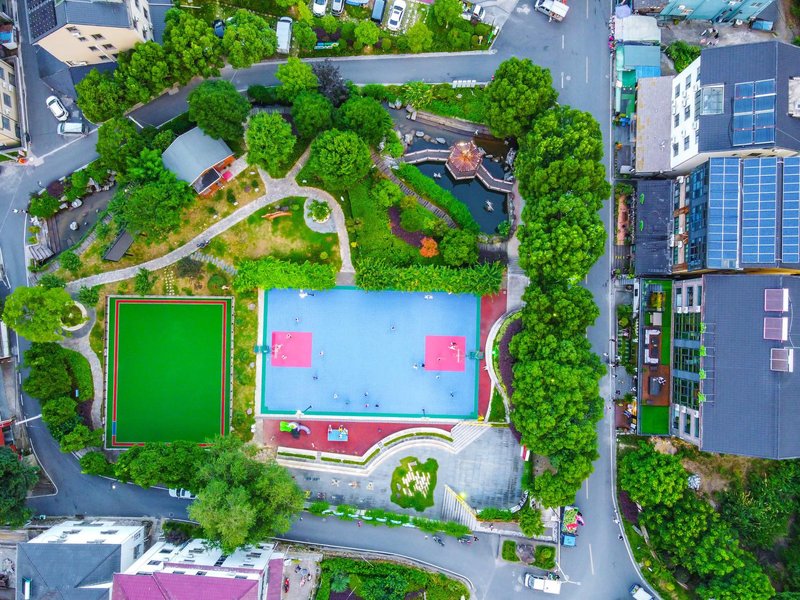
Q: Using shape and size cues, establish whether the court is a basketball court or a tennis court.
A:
basketball court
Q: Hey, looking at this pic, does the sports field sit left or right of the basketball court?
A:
left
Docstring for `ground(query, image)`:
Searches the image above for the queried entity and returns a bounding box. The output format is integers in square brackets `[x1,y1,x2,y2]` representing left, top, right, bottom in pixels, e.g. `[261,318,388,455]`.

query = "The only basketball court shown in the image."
[254,285,483,424]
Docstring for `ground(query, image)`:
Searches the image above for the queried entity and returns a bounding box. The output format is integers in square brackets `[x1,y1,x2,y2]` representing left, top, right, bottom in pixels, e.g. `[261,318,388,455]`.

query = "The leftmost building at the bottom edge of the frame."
[16,523,145,600]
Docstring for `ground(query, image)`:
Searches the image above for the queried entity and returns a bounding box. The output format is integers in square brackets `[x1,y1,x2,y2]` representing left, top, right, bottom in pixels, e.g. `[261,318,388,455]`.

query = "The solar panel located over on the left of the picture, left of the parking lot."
[30,0,59,37]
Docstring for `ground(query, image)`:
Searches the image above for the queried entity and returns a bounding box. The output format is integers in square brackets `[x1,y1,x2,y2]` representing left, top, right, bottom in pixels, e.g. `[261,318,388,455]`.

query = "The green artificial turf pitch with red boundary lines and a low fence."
[105,297,233,448]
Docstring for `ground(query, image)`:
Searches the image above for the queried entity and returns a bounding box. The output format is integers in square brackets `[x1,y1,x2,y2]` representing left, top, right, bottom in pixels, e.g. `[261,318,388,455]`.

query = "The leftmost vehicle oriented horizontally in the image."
[57,121,91,137]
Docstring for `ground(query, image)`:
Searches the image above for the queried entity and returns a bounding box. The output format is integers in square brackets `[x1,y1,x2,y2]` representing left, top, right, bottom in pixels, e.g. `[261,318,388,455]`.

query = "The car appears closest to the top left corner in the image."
[45,95,73,122]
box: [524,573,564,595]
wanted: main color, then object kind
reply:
white truck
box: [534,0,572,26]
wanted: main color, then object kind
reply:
white truck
